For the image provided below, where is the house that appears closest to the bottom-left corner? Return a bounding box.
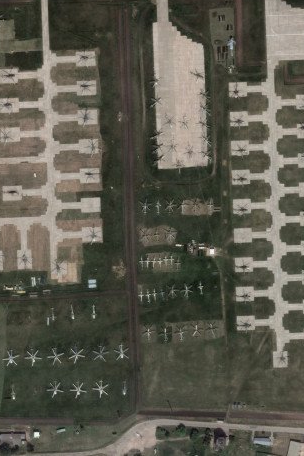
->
[0,433,26,447]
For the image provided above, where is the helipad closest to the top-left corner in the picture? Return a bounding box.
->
[0,68,37,84]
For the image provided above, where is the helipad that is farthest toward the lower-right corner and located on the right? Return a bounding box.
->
[273,350,288,367]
